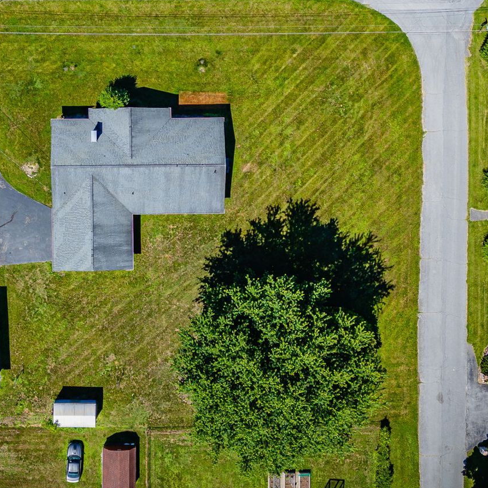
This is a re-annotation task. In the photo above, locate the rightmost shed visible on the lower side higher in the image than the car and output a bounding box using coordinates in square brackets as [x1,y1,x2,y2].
[53,398,96,426]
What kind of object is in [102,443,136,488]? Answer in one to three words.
shed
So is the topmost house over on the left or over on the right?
left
